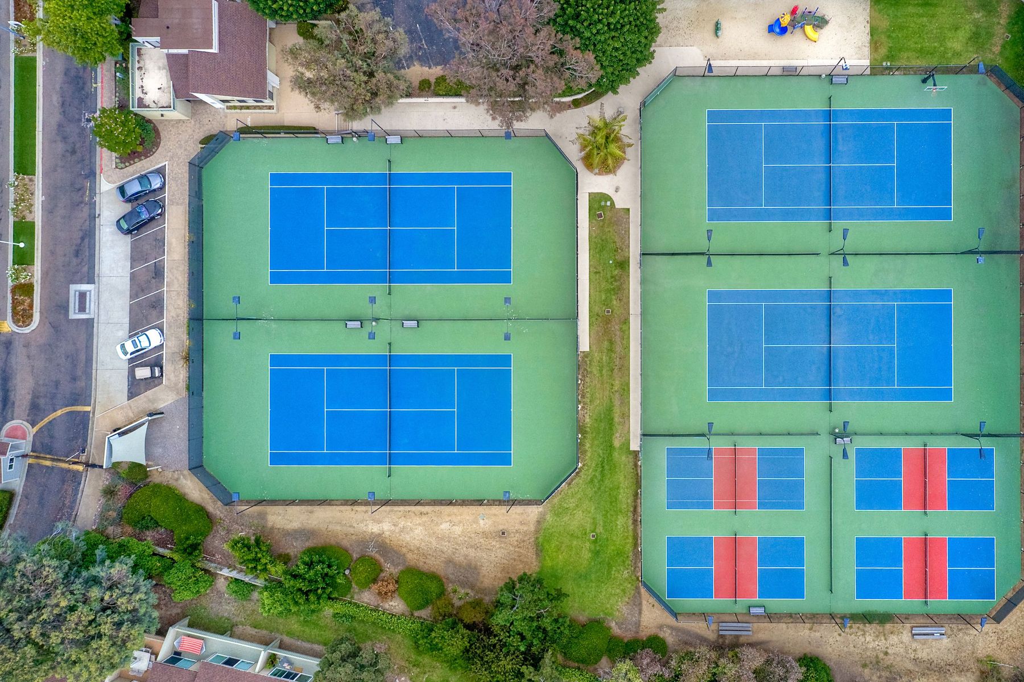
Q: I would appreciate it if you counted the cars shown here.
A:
3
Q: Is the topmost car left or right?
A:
left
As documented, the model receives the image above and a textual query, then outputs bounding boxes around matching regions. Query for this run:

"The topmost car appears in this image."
[115,171,169,204]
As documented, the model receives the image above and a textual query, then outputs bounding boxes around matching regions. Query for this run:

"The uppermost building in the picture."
[130,0,280,119]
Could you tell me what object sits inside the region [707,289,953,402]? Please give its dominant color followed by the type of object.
blue tennis court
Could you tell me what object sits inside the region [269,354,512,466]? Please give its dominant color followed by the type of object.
blue tennis court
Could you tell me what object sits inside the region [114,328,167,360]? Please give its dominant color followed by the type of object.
white car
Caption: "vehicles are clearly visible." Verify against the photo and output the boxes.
[114,328,167,360]
[115,171,169,204]
[134,367,162,379]
[114,199,167,235]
